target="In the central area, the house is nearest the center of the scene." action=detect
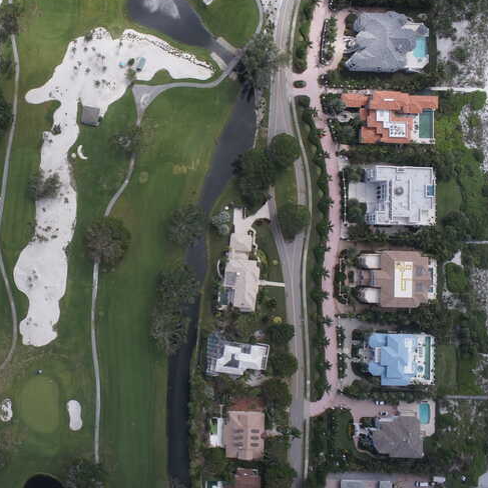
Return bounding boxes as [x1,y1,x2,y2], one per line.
[219,232,259,313]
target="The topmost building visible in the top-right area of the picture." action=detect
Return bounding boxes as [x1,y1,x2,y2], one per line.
[341,10,430,73]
